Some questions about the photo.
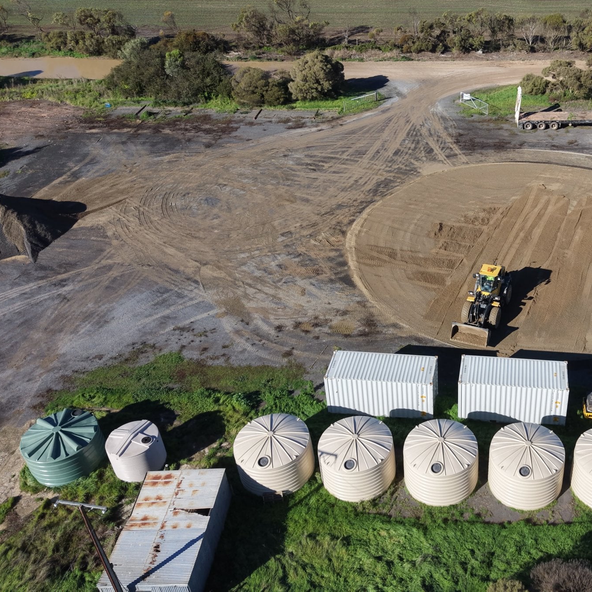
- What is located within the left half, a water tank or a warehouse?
water tank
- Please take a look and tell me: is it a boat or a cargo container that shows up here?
cargo container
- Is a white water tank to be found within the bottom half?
Yes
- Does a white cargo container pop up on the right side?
Yes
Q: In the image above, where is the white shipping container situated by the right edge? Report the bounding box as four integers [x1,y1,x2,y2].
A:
[458,355,569,425]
